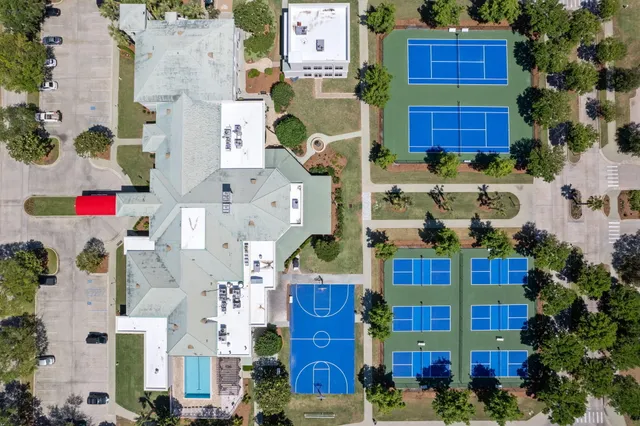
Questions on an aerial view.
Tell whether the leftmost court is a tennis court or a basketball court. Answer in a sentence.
I'd identify the leftmost court as a basketball court.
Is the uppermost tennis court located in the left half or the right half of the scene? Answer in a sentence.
You can find the uppermost tennis court on the right side of the picture.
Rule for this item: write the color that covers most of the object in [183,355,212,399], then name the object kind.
blue swimming pool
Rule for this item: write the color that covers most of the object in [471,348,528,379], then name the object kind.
blue sports court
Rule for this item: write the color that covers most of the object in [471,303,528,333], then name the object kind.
blue sports court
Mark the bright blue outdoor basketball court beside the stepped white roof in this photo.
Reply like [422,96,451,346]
[290,284,355,395]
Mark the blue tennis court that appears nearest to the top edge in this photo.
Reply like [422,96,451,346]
[408,34,508,89]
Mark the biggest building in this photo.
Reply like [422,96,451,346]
[116,4,331,391]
